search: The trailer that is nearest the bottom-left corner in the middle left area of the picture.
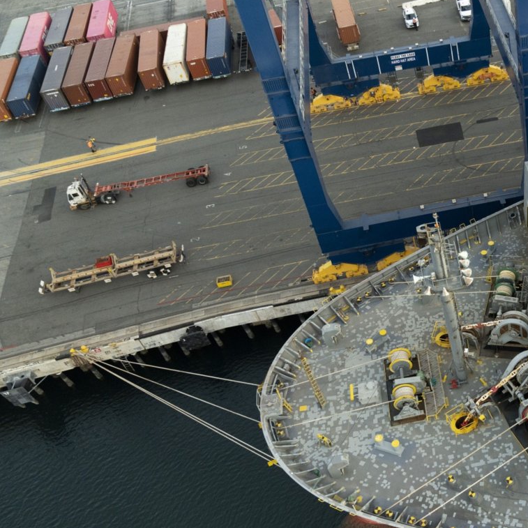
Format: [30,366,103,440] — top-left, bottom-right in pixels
[28,235,183,295]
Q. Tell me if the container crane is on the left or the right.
right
